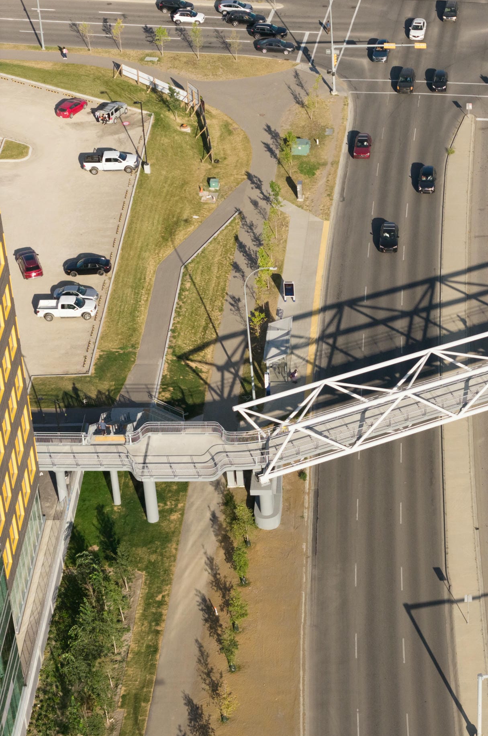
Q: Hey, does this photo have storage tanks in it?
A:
No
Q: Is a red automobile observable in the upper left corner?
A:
Yes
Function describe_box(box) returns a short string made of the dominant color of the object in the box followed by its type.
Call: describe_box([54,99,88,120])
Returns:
red car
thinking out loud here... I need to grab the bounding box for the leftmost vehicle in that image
[17,250,42,278]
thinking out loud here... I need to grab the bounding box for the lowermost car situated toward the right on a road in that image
[378,222,399,251]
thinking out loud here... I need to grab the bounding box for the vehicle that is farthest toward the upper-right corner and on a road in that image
[442,0,459,21]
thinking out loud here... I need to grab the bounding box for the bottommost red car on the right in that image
[353,134,372,158]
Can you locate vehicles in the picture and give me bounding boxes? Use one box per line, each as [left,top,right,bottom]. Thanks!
[371,39,389,62]
[417,166,436,193]
[378,222,399,251]
[227,10,266,26]
[250,21,288,40]
[442,0,459,21]
[409,20,426,40]
[170,7,208,24]
[217,0,254,15]
[353,134,372,158]
[156,0,193,13]
[51,283,101,299]
[93,99,130,123]
[17,250,42,278]
[64,257,111,277]
[396,64,416,93]
[36,295,96,320]
[54,99,88,120]
[256,39,295,55]
[431,70,448,92]
[84,151,137,174]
